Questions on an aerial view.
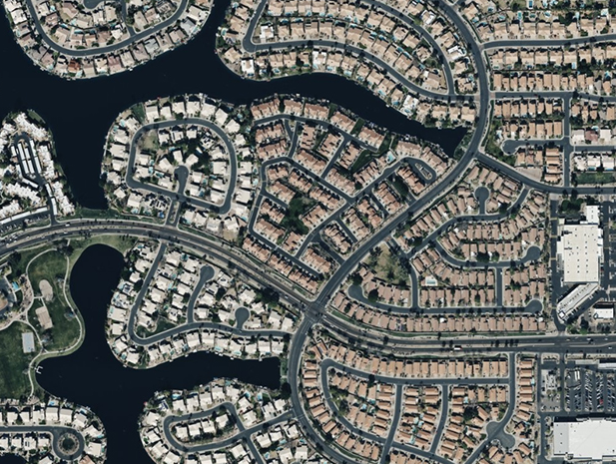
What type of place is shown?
residential area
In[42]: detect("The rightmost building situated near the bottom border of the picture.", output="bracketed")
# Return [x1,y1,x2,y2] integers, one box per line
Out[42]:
[554,418,616,462]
